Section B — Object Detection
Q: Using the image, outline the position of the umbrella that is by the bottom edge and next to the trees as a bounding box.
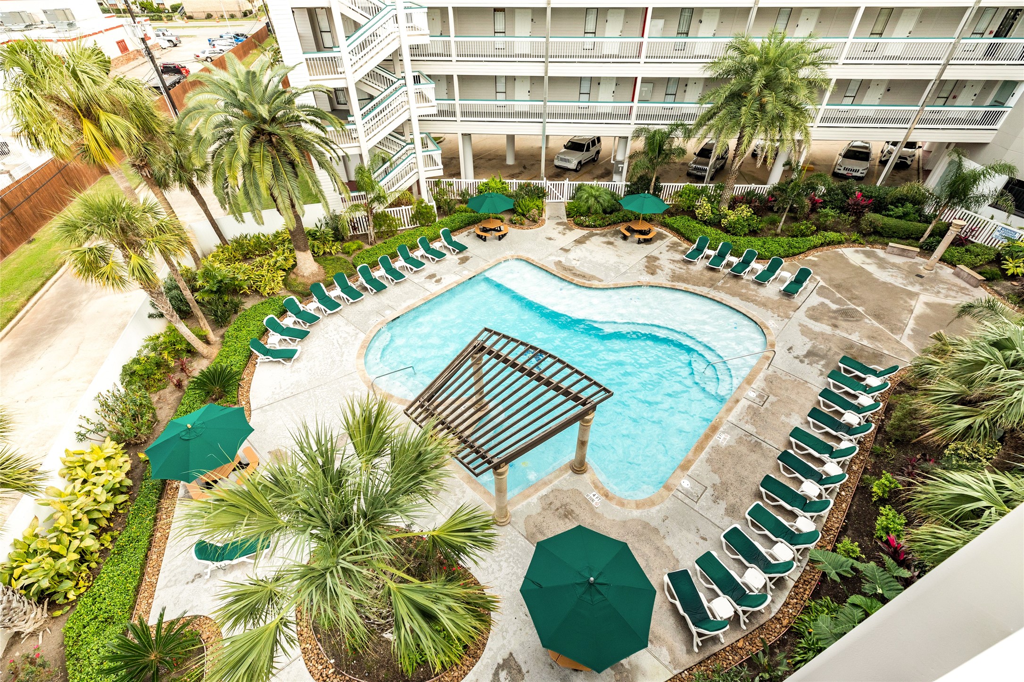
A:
[519,527,656,678]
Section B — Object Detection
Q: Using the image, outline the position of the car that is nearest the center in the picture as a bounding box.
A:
[556,135,600,170]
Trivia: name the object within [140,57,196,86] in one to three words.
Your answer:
truck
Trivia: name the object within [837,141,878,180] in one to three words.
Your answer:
car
